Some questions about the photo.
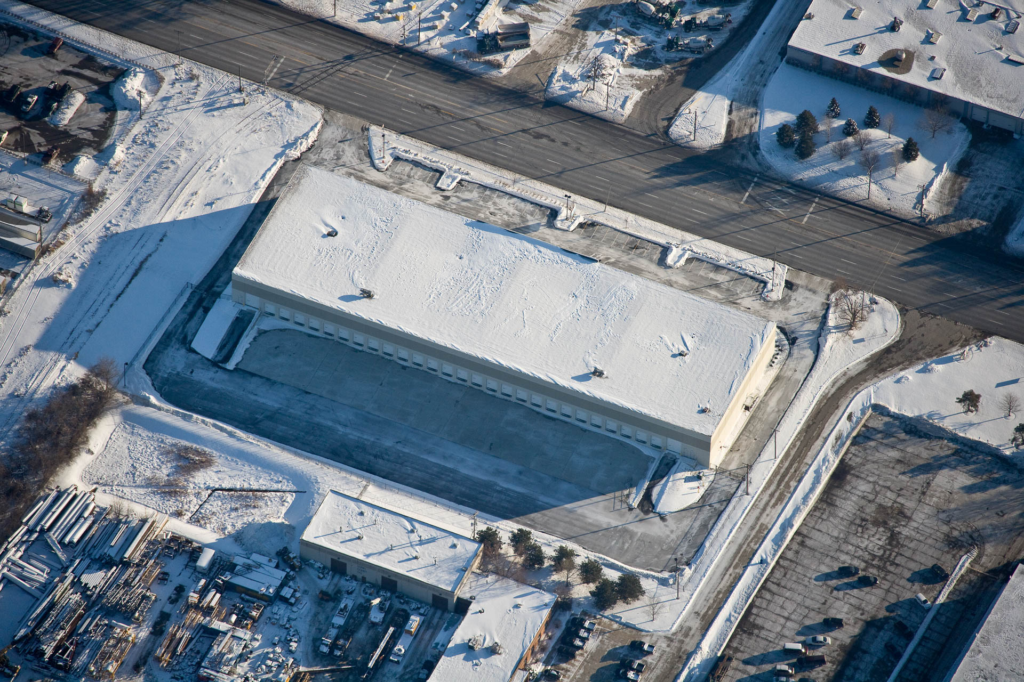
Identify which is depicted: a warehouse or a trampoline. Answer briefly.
warehouse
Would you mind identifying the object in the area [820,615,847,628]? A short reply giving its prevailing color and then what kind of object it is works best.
black vehicle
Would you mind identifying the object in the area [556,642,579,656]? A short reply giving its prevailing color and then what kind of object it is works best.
black car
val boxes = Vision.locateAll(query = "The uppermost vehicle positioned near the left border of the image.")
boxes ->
[47,27,66,53]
